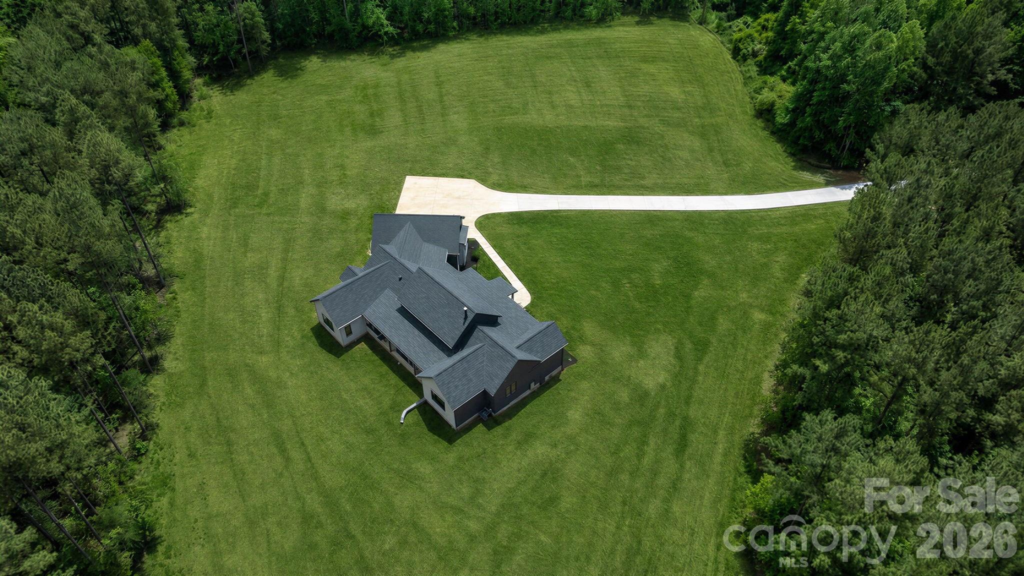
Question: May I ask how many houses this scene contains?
one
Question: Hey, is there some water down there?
No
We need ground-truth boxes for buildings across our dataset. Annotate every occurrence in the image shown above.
[310,213,569,430]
